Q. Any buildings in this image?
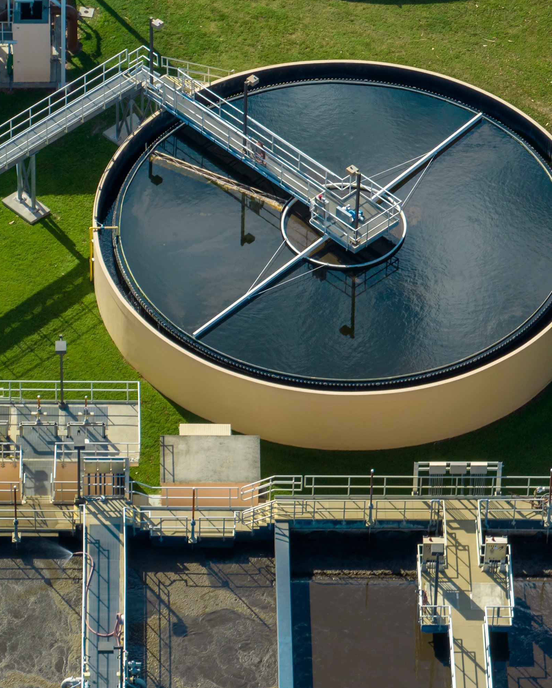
No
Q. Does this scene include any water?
Yes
